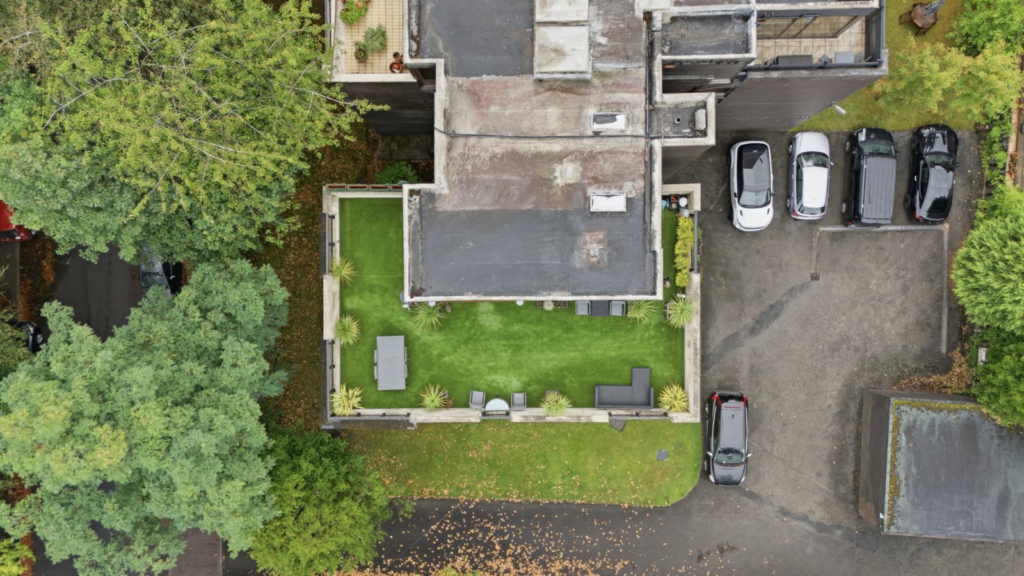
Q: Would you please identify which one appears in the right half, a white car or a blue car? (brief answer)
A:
white car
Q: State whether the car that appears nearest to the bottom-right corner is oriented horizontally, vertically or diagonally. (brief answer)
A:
vertically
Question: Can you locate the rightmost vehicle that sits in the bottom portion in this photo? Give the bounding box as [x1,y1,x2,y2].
[704,390,752,484]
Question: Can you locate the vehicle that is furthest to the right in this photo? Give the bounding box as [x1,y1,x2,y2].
[899,125,958,225]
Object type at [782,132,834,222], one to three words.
car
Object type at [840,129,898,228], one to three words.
car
